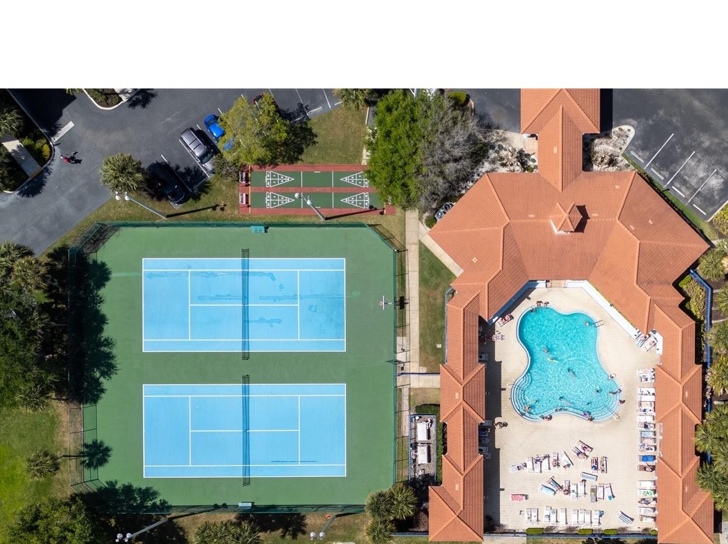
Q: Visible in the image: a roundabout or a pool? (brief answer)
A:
pool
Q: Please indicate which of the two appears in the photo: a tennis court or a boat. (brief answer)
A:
tennis court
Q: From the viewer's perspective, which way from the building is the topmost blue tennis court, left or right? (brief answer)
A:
to the left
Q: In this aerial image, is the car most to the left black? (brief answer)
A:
Yes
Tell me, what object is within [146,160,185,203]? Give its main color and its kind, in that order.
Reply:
black car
